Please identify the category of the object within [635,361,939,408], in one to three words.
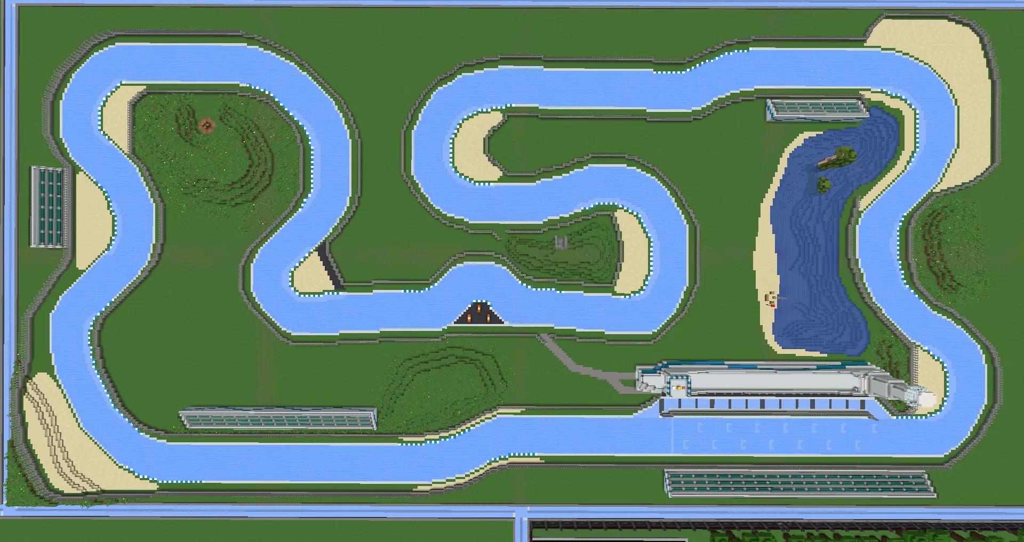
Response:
building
